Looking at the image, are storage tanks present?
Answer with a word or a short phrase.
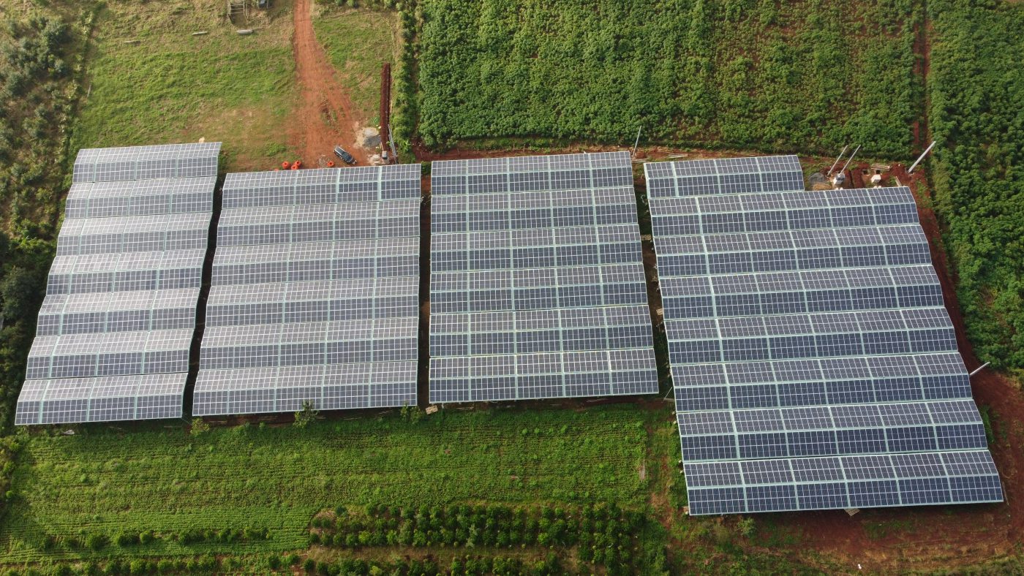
No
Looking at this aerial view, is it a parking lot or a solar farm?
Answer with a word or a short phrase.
solar farm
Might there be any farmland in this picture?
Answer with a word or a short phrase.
Yes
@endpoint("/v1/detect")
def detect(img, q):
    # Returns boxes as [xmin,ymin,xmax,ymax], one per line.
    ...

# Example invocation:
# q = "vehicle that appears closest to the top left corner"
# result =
[332,145,356,165]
